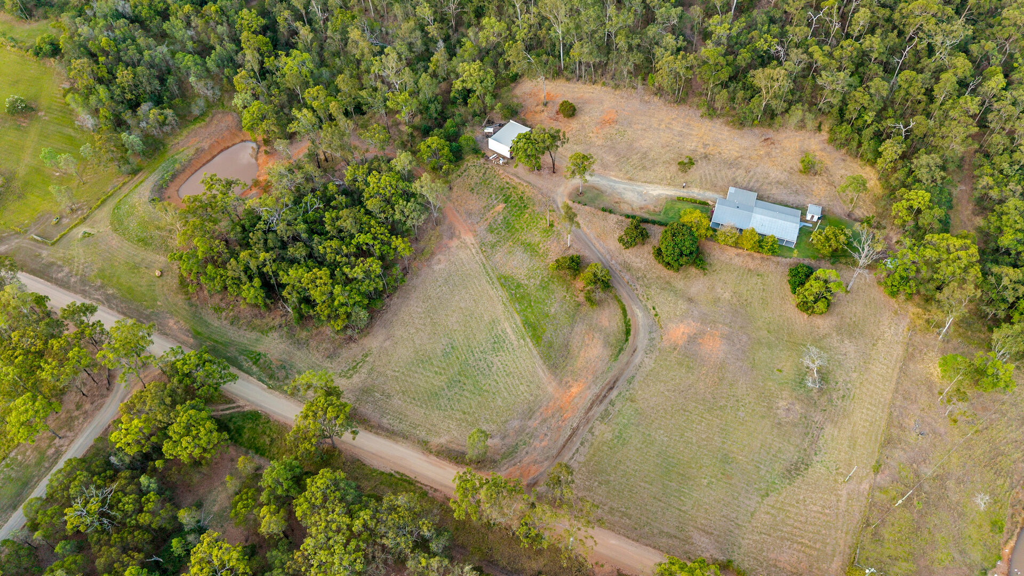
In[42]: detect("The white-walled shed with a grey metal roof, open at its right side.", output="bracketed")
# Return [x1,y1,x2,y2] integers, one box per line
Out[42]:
[488,118,529,158]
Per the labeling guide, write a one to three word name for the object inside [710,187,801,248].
house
